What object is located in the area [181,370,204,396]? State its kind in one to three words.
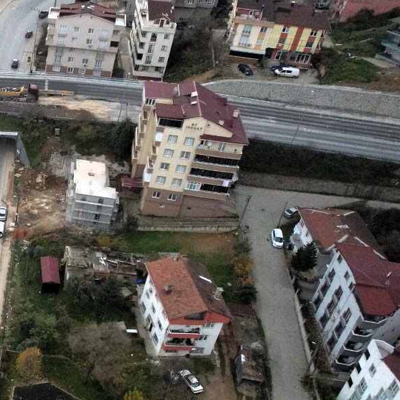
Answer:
car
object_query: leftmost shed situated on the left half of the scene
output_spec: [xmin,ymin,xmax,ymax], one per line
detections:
[32,254,61,294]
